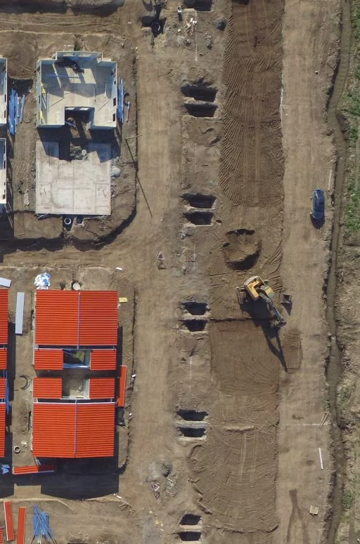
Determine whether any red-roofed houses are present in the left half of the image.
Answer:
Yes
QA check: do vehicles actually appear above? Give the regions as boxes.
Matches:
[235,277,286,330]
[306,190,325,220]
